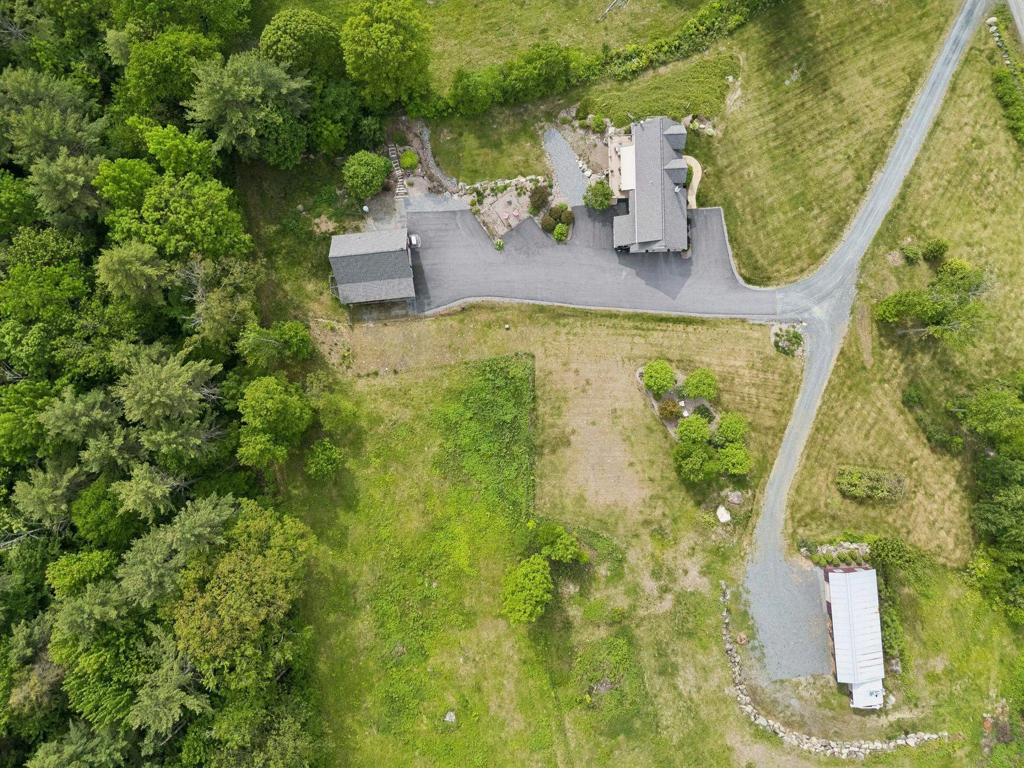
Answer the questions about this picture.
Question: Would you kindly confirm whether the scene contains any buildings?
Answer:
Yes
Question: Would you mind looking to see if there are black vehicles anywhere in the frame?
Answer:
No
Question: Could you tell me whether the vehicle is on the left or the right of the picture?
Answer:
right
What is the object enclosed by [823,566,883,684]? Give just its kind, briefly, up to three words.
barn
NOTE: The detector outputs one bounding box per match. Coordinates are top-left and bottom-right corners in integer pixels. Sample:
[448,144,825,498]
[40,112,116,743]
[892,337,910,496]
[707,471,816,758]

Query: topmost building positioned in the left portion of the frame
[329,228,415,305]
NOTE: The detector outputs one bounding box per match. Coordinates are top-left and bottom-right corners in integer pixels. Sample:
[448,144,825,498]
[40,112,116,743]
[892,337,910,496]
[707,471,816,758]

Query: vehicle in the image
[845,678,885,710]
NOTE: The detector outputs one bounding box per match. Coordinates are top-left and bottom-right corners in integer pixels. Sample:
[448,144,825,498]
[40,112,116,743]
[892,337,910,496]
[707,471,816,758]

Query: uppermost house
[612,115,692,256]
